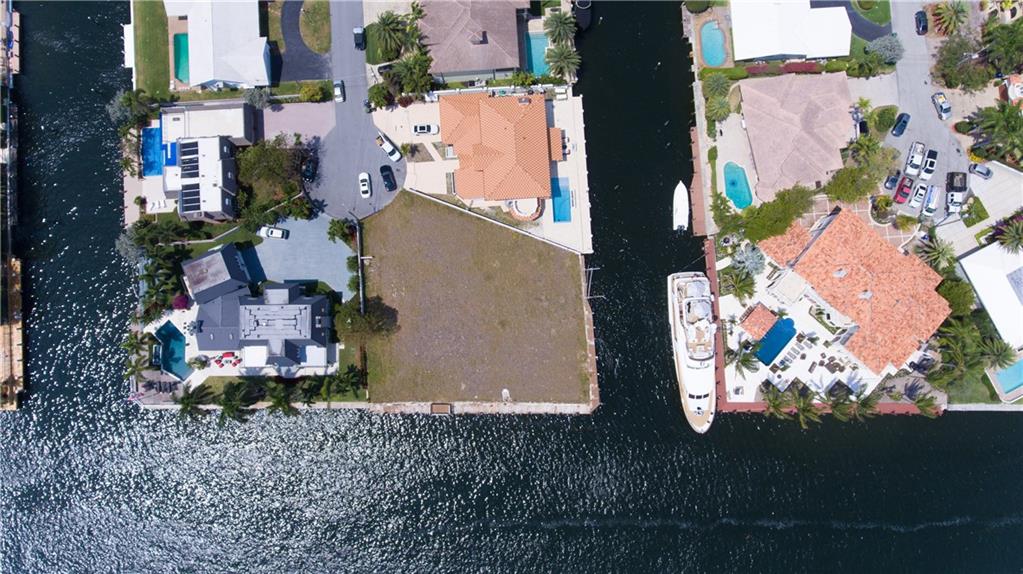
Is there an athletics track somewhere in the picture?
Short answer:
No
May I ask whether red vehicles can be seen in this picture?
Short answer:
Yes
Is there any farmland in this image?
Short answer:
No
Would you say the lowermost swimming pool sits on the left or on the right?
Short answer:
right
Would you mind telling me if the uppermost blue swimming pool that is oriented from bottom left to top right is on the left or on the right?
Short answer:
right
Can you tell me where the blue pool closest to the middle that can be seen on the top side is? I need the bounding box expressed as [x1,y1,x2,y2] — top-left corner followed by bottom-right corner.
[550,177,572,224]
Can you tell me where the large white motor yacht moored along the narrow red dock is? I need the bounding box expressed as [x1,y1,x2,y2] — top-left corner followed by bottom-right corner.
[667,264,718,433]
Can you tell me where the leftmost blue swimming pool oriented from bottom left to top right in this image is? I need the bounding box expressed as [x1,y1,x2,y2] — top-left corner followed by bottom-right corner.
[754,316,799,367]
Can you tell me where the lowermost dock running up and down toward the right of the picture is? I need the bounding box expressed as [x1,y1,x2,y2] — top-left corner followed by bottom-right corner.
[703,240,727,411]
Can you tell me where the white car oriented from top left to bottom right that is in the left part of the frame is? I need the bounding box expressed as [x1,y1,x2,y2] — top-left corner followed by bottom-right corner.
[374,133,403,162]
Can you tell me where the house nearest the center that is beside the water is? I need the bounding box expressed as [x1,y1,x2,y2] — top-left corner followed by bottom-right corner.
[439,94,563,201]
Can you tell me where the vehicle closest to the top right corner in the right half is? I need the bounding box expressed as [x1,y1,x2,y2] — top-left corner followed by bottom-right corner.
[913,10,928,36]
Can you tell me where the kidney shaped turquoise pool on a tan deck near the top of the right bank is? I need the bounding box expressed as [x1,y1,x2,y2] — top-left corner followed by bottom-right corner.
[699,19,727,66]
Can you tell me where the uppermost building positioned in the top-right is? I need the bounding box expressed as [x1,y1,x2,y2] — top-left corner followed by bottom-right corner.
[729,0,852,64]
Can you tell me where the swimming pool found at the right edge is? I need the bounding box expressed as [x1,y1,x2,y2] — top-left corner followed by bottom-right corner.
[992,359,1023,397]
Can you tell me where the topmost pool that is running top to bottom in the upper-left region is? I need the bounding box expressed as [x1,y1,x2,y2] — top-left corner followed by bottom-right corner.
[173,32,190,85]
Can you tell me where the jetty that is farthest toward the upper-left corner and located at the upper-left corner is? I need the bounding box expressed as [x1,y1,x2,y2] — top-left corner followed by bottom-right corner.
[12,12,25,75]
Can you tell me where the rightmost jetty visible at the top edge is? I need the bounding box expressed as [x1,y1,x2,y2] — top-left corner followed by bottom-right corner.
[680,3,694,39]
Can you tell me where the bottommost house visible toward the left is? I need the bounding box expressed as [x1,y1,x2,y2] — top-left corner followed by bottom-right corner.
[182,243,342,369]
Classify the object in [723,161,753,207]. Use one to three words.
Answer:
swimming pool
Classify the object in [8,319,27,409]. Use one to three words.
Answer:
pier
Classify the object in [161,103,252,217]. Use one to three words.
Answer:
house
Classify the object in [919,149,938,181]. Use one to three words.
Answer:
car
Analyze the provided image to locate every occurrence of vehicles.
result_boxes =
[883,170,901,192]
[913,10,928,36]
[260,226,288,238]
[905,142,924,178]
[909,183,927,209]
[353,27,365,51]
[946,168,966,212]
[930,88,953,121]
[414,123,439,135]
[374,133,403,162]
[375,64,398,77]
[303,153,318,180]
[968,163,993,180]
[381,165,397,192]
[891,112,910,138]
[921,186,944,217]
[894,177,914,206]
[919,149,938,181]
[334,80,345,104]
